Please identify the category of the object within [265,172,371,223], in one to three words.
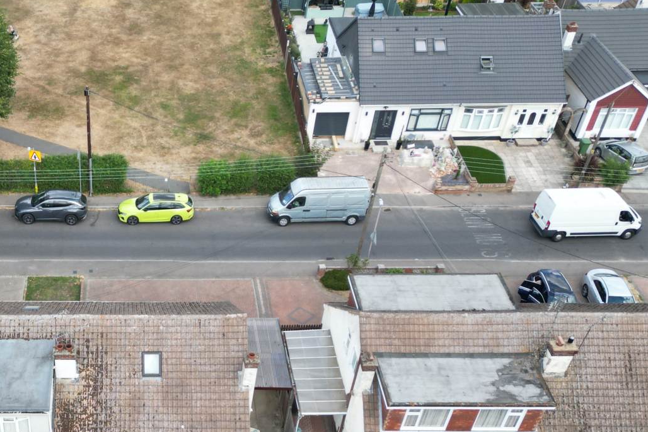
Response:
van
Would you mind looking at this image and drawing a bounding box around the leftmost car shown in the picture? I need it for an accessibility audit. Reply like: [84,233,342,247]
[14,187,89,224]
